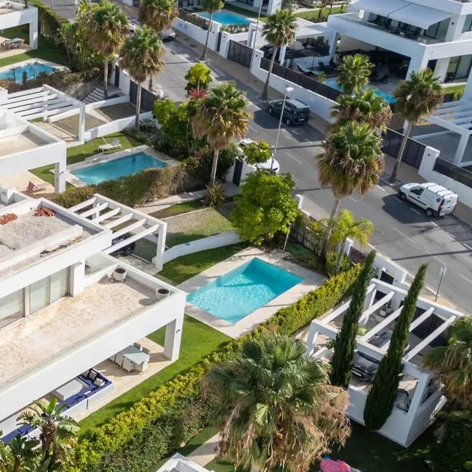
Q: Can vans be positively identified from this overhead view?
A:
Yes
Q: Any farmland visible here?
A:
No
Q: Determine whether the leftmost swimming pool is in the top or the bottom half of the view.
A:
top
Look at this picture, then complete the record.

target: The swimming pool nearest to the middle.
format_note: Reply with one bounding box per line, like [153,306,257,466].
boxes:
[174,245,330,335]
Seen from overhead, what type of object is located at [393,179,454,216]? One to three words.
van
